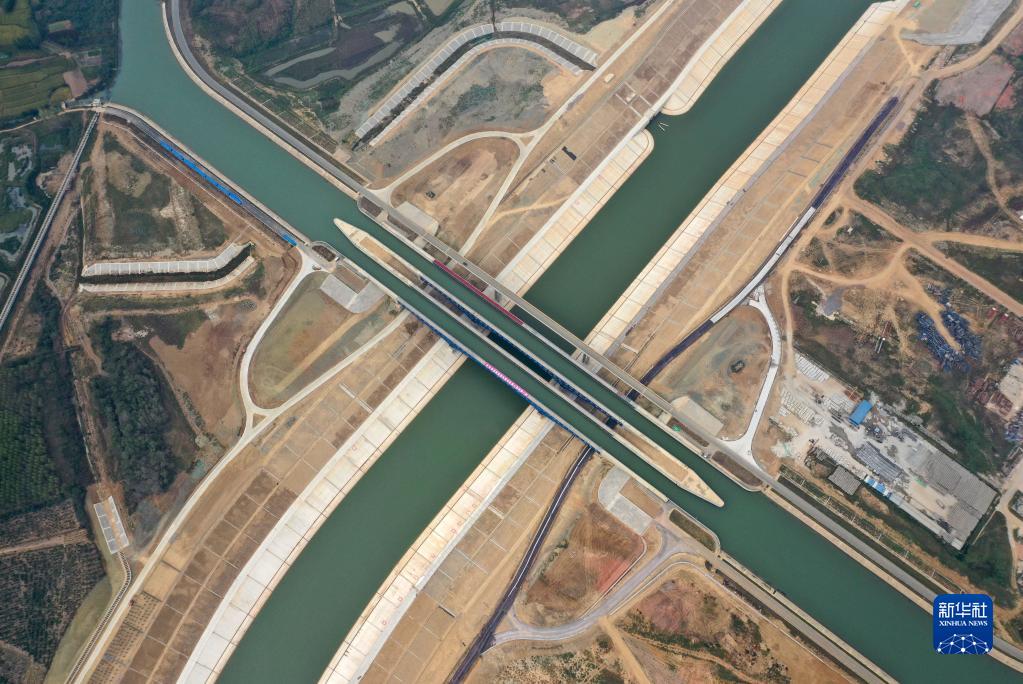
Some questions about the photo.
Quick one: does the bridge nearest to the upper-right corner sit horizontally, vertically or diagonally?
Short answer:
diagonally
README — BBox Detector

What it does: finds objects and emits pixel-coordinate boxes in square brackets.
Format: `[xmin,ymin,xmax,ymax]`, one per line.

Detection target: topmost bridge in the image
[623,76,681,148]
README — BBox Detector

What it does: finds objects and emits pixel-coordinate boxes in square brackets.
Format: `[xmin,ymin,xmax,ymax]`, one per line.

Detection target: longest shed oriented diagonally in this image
[886,494,958,549]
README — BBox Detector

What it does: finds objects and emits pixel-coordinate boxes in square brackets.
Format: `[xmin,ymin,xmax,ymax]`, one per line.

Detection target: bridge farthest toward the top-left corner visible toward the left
[0,112,100,333]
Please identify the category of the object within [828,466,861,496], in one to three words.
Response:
shed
